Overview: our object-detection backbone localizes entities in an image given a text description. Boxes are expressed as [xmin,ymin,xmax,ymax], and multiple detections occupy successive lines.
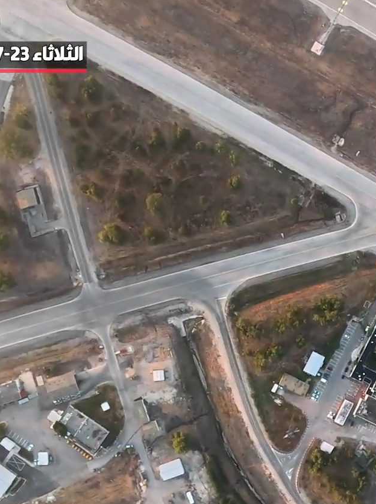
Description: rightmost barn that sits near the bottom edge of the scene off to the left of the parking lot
[157,458,185,481]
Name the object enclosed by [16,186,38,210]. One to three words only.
house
